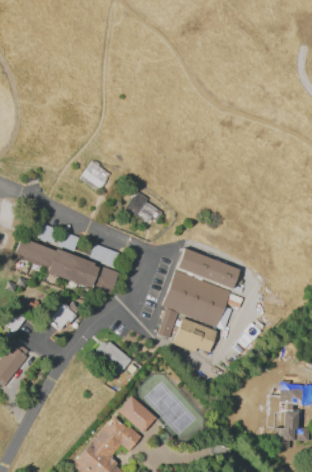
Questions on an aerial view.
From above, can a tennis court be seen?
Yes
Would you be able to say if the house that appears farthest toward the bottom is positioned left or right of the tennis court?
on its left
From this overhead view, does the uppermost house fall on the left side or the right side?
left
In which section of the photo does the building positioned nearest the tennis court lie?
bottom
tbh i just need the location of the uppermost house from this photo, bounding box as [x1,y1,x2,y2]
[80,160,110,192]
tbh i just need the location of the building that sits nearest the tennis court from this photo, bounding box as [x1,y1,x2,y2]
[119,396,157,432]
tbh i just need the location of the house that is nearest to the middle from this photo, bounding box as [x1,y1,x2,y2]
[126,192,163,224]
